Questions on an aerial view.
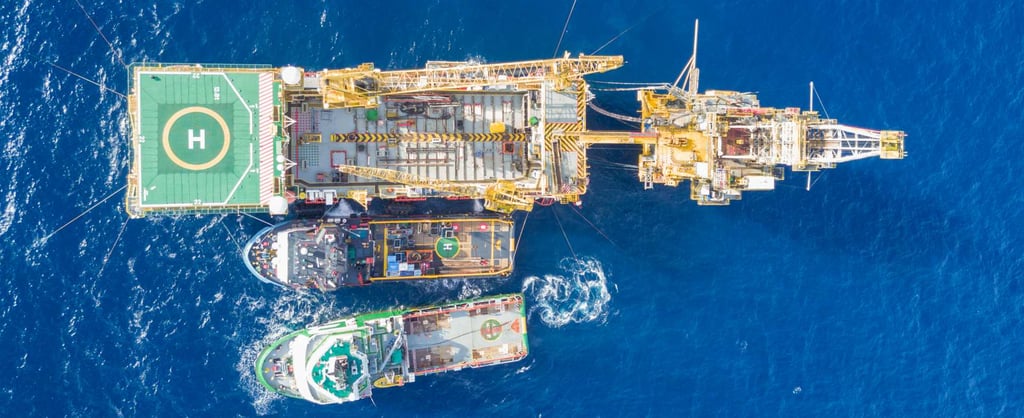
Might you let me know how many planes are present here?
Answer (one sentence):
The count of planes is 0.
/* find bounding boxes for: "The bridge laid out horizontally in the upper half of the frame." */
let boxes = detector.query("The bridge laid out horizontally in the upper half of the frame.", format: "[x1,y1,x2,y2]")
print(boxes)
[561,130,656,149]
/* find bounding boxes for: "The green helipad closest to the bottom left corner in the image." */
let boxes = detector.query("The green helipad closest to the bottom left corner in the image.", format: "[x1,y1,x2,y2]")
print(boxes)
[435,235,459,259]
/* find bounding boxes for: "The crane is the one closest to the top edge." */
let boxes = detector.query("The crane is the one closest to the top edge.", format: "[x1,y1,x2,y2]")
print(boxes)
[321,56,628,108]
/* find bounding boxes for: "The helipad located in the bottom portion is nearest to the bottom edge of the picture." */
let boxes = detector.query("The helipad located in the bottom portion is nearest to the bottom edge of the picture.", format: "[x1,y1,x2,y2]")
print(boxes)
[480,318,503,340]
